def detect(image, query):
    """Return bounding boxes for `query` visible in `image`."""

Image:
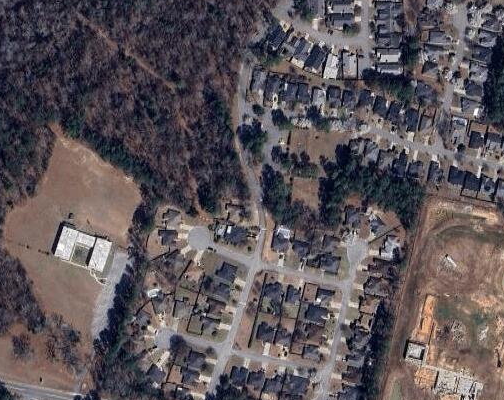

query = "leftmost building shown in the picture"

[55,226,112,273]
